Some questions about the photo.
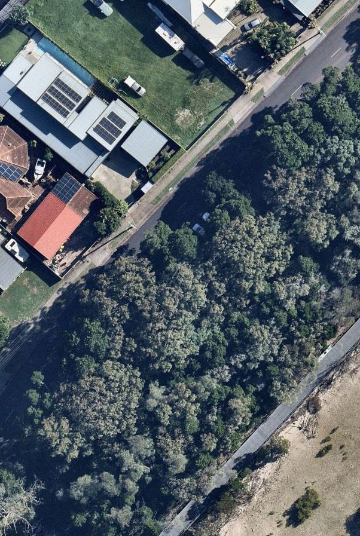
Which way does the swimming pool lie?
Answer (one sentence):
What the image shows is the swimming pool lying at an angle.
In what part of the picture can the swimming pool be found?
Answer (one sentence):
Look in the top left portion of the view to spot the swimming pool.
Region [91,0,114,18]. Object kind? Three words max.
vehicle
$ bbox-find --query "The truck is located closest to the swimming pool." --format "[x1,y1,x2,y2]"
[122,73,147,99]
